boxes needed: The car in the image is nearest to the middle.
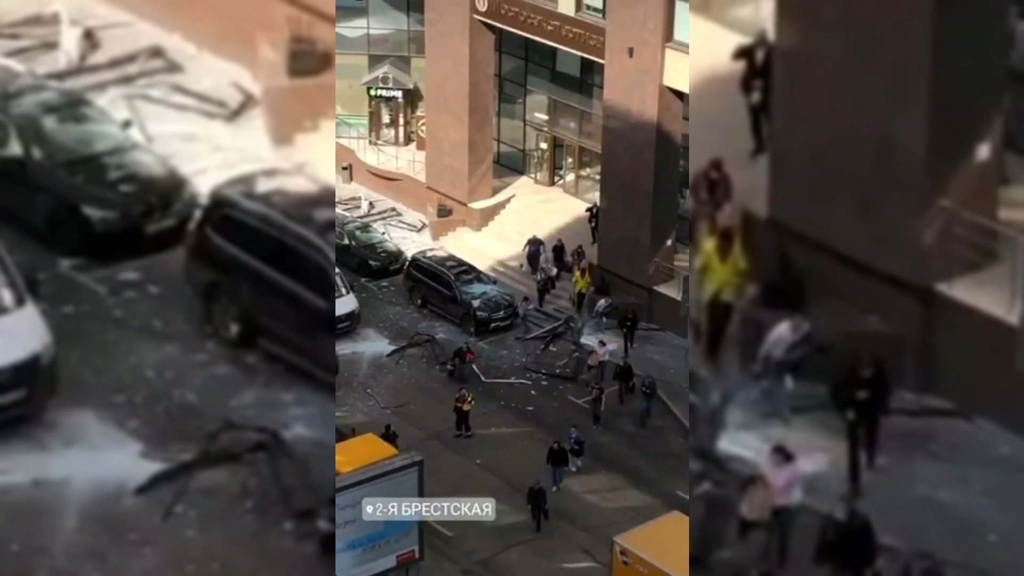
[398,248,518,334]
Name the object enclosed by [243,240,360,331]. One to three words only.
van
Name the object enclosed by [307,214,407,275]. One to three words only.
car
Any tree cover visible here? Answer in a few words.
No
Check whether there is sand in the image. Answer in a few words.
No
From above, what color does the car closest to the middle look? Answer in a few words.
black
